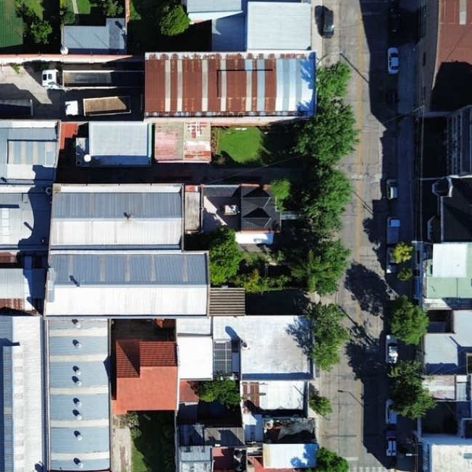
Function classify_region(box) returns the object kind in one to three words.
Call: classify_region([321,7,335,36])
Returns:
vehicle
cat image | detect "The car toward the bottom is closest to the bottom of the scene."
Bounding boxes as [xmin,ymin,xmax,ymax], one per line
[382,430,398,458]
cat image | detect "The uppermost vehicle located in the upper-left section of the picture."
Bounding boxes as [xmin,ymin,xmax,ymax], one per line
[44,69,143,88]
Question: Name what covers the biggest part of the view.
buildings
